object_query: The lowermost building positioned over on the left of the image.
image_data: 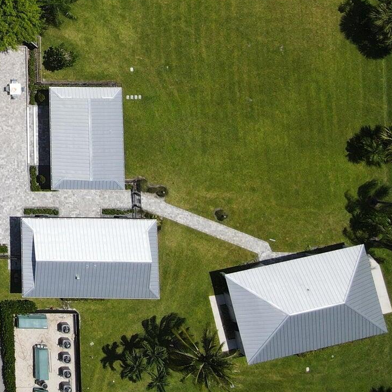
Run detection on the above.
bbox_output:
[17,215,160,300]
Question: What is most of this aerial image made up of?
grass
